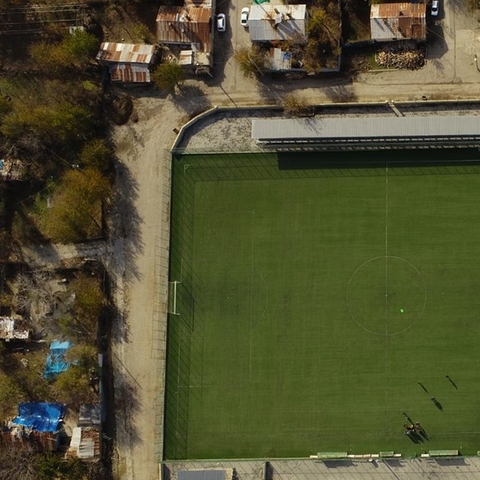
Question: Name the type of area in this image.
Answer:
sports ground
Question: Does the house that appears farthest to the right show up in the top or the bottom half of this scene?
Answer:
top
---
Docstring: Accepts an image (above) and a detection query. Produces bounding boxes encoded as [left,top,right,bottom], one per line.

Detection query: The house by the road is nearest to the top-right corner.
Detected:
[370,3,427,46]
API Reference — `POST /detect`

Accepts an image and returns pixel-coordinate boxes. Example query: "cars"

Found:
[430,0,439,17]
[217,14,226,31]
[240,7,250,27]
